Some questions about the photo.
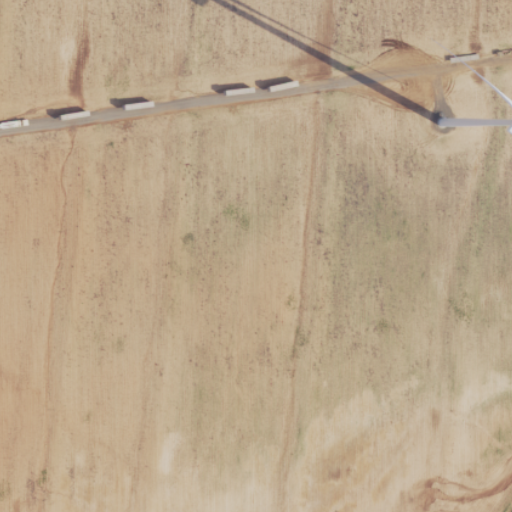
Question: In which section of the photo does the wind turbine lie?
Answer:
top right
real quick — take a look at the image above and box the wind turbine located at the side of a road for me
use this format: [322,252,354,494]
[434,40,512,132]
